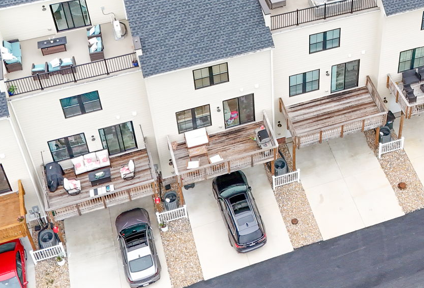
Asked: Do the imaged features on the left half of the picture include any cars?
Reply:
Yes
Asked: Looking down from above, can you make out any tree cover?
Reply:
No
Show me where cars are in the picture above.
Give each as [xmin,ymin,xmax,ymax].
[215,176,268,254]
[114,206,159,288]
[0,241,31,288]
